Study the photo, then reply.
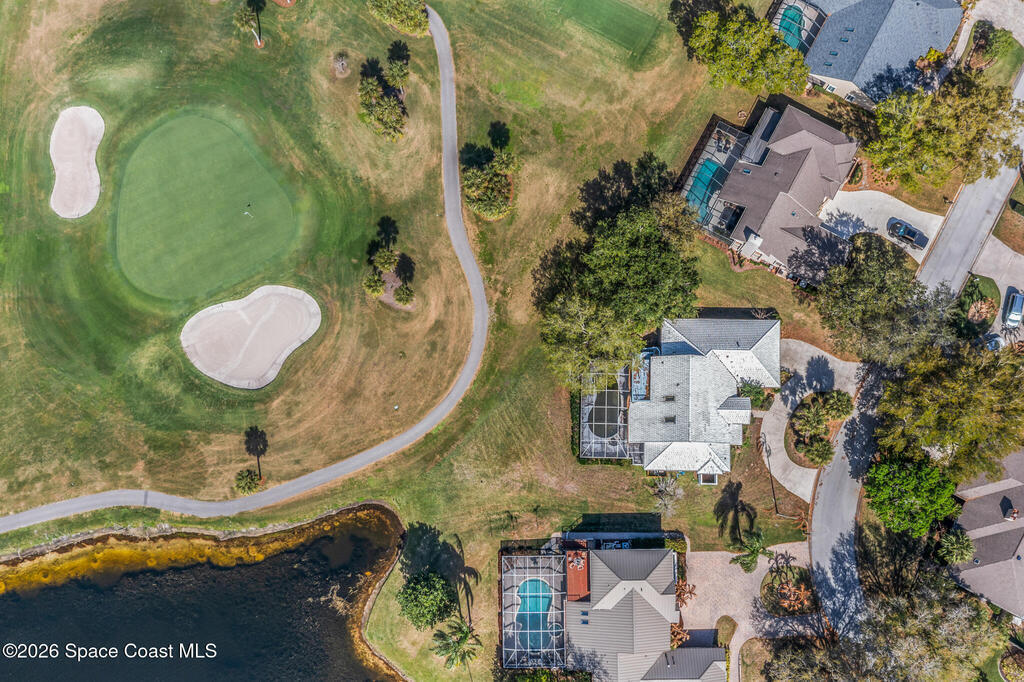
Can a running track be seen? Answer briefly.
No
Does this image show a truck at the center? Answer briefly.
No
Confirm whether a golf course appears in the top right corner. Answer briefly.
No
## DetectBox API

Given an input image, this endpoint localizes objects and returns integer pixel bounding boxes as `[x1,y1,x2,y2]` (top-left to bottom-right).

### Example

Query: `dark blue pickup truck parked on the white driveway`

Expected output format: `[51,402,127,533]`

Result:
[885,217,932,251]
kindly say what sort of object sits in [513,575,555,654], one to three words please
swimming pool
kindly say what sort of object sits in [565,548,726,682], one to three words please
house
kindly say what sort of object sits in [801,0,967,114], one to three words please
house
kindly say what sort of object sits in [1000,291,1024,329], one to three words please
car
